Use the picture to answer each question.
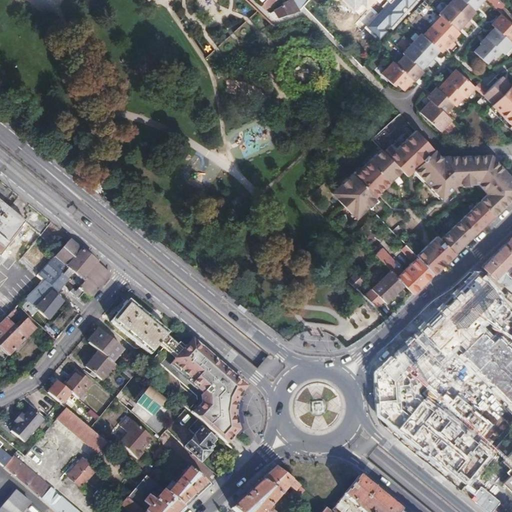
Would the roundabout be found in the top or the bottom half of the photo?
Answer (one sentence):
The bottom half of the photo is where the roundabout is.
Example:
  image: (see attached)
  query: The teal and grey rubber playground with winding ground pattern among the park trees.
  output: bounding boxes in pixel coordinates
[228,119,275,160]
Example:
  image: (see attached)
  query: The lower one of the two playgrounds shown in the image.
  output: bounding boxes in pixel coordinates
[190,150,222,182]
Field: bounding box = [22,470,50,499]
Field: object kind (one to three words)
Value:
shed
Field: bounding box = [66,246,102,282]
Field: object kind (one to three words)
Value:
house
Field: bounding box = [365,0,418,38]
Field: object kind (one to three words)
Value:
building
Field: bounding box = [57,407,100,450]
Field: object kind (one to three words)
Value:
shed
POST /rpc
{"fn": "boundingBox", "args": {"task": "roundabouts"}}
[268,356,366,452]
